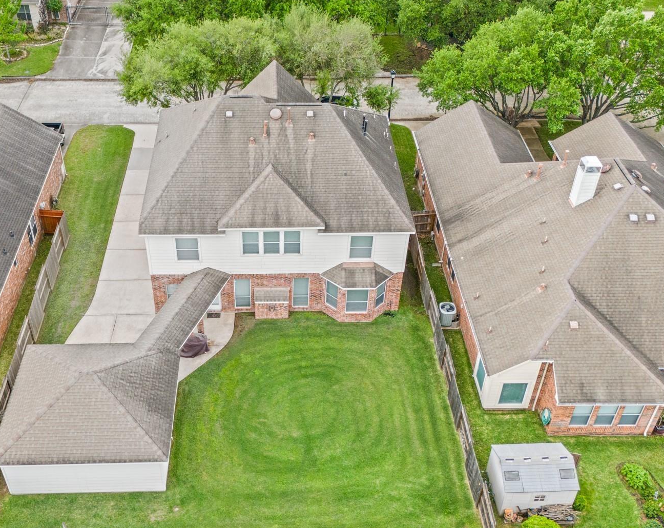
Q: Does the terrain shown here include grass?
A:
Yes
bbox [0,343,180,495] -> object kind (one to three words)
building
